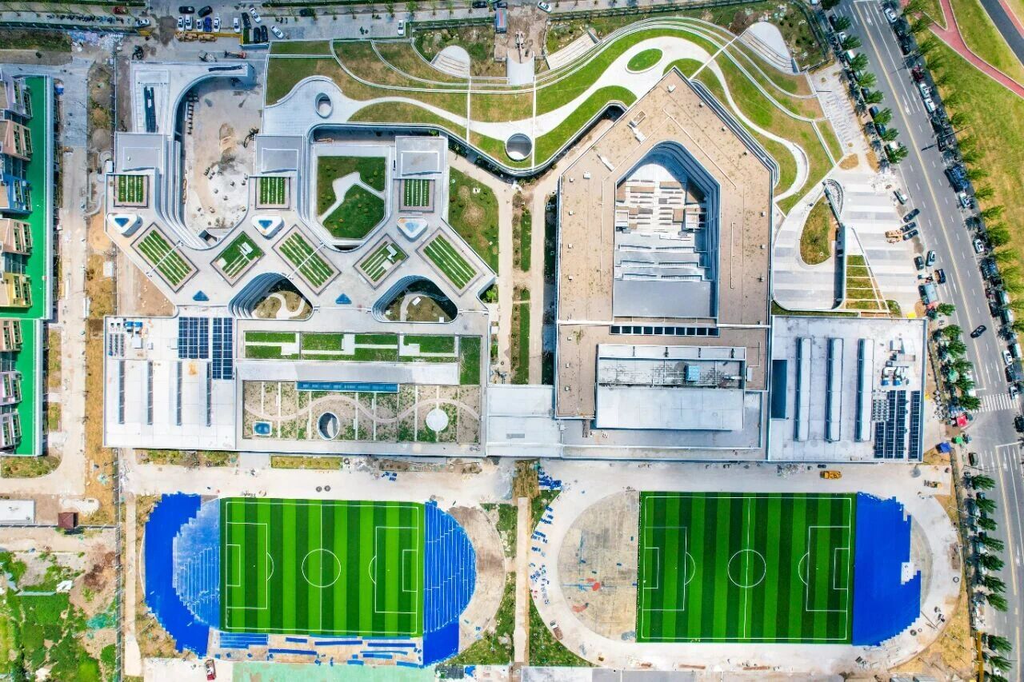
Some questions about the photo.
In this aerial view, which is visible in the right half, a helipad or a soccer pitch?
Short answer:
soccer pitch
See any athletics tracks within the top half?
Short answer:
No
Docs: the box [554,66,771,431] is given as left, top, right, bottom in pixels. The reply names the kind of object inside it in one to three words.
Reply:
building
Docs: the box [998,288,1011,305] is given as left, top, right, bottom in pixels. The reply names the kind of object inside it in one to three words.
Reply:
vehicle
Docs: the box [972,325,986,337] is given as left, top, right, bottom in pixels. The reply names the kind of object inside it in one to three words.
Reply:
vehicle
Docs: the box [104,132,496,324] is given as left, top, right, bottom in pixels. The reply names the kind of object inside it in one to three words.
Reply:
building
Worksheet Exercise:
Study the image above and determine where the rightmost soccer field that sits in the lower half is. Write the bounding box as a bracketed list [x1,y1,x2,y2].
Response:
[637,492,856,645]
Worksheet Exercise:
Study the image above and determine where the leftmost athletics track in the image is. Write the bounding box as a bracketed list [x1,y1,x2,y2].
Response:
[138,489,508,666]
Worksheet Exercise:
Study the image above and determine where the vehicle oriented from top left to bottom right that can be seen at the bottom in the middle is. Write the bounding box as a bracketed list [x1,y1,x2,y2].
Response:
[549,622,564,641]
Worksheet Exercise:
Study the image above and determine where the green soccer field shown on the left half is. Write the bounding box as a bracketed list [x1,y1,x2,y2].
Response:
[220,497,424,638]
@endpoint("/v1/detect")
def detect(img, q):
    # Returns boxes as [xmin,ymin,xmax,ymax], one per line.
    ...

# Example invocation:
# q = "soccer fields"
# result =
[220,497,424,638]
[637,492,856,645]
